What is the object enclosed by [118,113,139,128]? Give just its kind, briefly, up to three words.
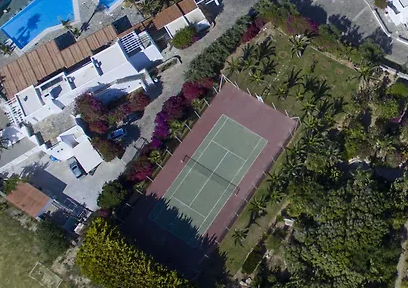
car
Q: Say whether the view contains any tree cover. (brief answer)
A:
Yes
